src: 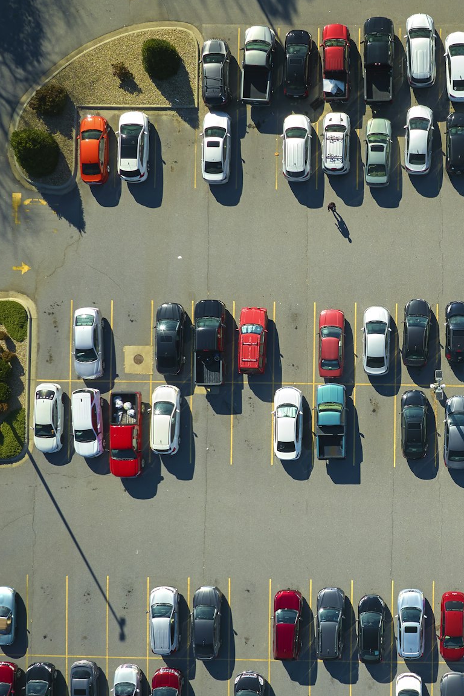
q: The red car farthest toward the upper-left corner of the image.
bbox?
[76,116,109,184]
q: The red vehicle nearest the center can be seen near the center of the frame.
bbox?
[236,307,268,373]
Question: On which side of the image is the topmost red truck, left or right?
right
